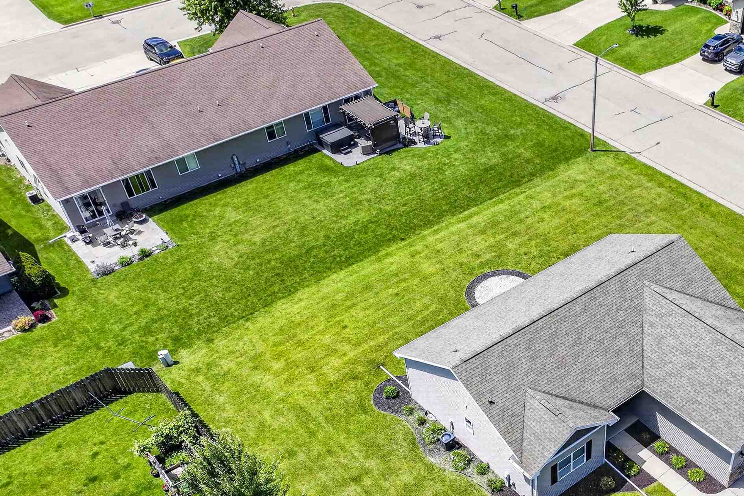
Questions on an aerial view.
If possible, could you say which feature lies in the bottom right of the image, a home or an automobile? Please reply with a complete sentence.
What appears in the bottom right of the image is a home.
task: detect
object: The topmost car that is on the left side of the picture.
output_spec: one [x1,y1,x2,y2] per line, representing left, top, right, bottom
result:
[141,29,180,62]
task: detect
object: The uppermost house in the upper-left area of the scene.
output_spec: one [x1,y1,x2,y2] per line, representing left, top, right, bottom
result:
[0,9,378,230]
